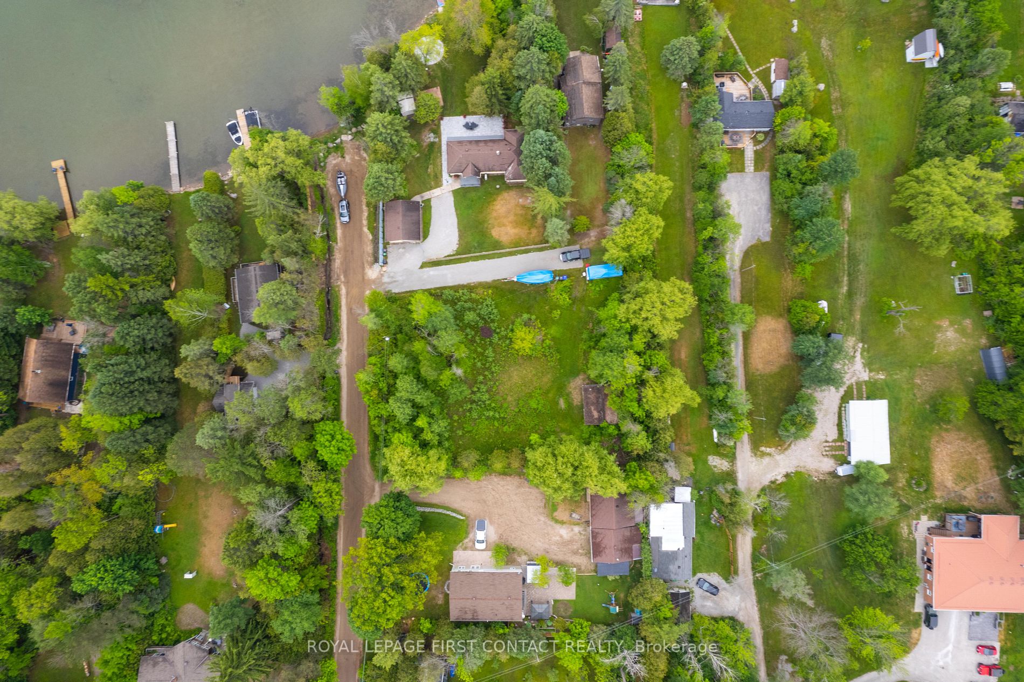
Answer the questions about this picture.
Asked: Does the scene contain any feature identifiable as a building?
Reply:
Yes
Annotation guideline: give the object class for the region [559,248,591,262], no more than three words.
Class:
vehicle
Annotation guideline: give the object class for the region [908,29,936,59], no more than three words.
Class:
building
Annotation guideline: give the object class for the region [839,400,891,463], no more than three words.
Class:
barn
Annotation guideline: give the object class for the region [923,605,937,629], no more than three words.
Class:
car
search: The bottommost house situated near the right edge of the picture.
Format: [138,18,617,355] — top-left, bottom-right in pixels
[923,513,1024,613]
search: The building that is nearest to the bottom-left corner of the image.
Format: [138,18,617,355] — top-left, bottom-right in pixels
[138,642,222,682]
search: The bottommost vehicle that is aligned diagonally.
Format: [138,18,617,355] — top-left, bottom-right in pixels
[695,577,720,596]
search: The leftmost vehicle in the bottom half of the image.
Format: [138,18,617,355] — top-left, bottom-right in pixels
[474,518,486,550]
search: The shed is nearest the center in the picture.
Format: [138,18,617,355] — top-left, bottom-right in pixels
[583,384,618,425]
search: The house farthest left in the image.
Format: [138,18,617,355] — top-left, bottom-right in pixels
[17,338,81,403]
